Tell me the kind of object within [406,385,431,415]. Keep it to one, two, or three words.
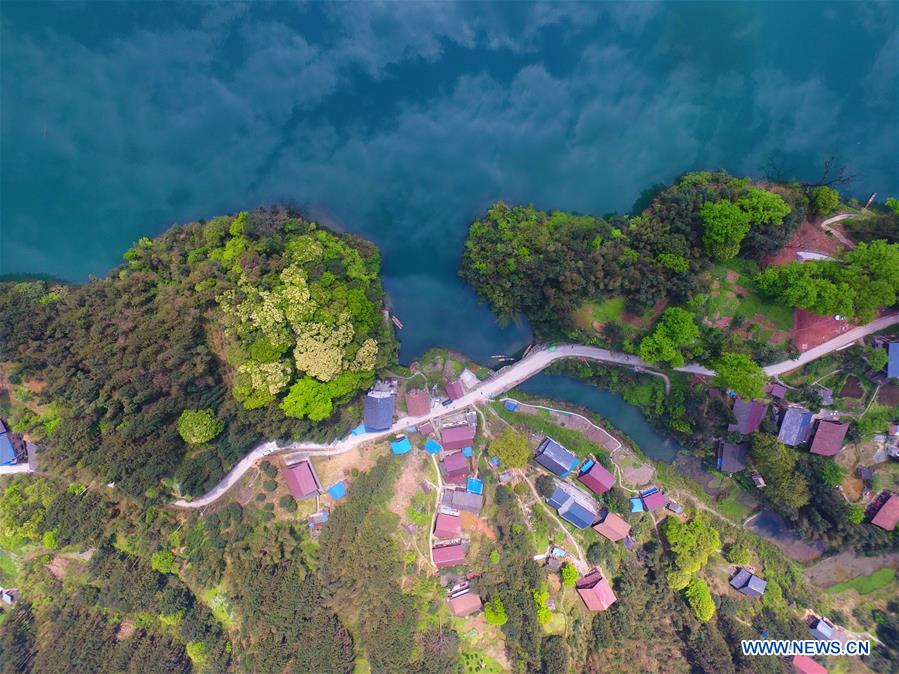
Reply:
house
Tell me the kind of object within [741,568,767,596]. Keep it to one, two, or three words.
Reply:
house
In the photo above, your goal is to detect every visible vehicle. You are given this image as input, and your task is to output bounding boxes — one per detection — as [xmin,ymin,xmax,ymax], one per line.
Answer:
[263,448,272,456]
[433,398,441,408]
[442,398,453,405]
